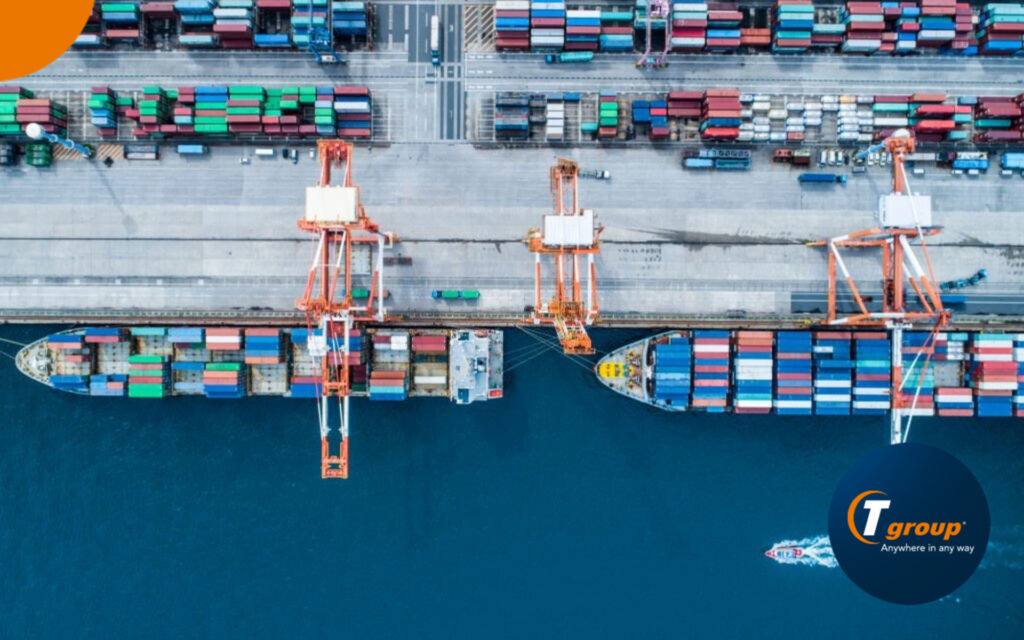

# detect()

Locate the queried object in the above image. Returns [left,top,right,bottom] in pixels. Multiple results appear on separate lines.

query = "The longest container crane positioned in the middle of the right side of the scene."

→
[805,138,959,484]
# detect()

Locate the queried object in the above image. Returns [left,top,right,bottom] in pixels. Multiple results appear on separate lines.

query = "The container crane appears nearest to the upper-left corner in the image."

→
[311,0,350,62]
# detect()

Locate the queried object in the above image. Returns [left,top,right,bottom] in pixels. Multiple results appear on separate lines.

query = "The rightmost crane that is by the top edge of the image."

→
[638,0,672,68]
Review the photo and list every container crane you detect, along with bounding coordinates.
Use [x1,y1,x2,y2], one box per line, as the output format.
[805,138,959,484]
[638,0,672,68]
[285,138,400,478]
[311,0,350,62]
[520,156,608,353]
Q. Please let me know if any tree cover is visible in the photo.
No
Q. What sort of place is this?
port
